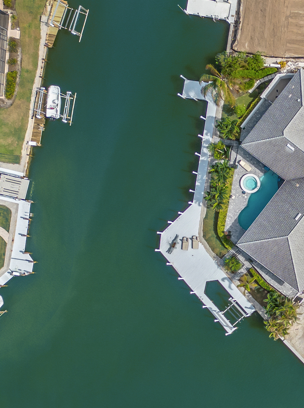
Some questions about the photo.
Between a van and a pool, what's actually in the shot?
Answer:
pool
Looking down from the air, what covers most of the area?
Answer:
water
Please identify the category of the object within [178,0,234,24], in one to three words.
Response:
pier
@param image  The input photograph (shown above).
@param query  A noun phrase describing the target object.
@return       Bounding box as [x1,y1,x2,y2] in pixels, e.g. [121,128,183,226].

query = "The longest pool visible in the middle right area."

[238,171,284,229]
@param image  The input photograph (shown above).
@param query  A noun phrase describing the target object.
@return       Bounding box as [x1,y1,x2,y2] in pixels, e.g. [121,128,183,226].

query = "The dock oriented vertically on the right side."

[154,75,256,336]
